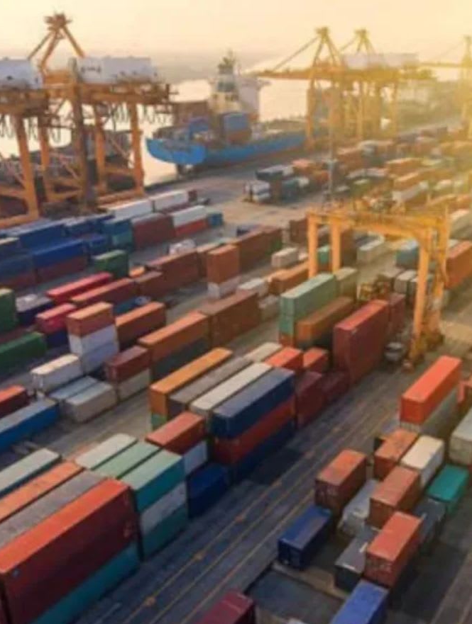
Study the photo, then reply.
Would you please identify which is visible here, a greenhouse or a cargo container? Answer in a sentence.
The one in the frame is a cargo container.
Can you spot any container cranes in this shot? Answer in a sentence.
Yes, the frame does contain a container crane.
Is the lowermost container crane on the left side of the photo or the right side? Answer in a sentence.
It is on the right.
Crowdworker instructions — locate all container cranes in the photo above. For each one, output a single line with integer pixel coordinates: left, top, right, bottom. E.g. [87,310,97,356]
[14,8,186,216]
[281,32,440,143]
[0,54,68,228]
[306,198,452,366]
[429,40,472,122]
[240,30,407,153]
